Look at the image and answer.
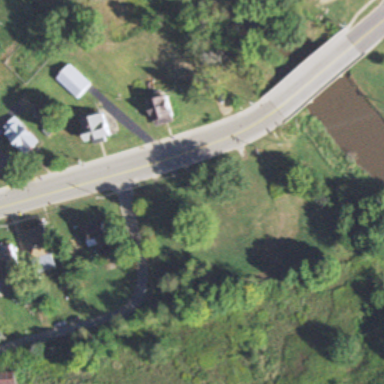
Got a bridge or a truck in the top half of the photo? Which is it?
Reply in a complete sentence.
There is a bridge in the top half of the photo.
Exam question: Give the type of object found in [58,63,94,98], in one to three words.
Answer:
shed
